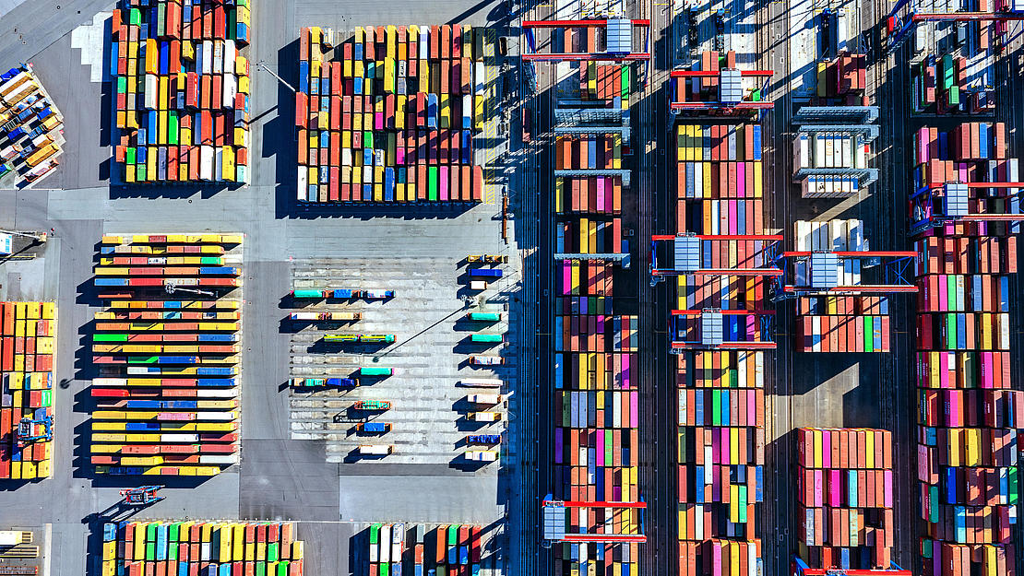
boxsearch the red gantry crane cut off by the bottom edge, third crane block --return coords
[790,546,912,576]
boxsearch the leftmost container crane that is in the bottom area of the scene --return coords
[542,484,648,550]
